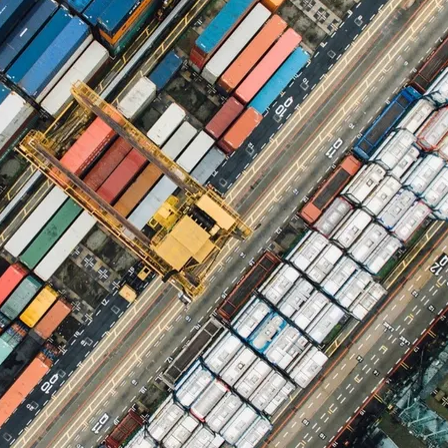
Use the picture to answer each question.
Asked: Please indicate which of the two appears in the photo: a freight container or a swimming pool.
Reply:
freight container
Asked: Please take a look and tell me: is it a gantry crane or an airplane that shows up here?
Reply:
gantry crane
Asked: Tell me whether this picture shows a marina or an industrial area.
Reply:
industrial area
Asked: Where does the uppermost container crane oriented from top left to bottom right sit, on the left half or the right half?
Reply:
left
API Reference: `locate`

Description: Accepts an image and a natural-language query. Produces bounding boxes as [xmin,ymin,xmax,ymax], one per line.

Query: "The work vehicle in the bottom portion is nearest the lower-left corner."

[116,274,147,305]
